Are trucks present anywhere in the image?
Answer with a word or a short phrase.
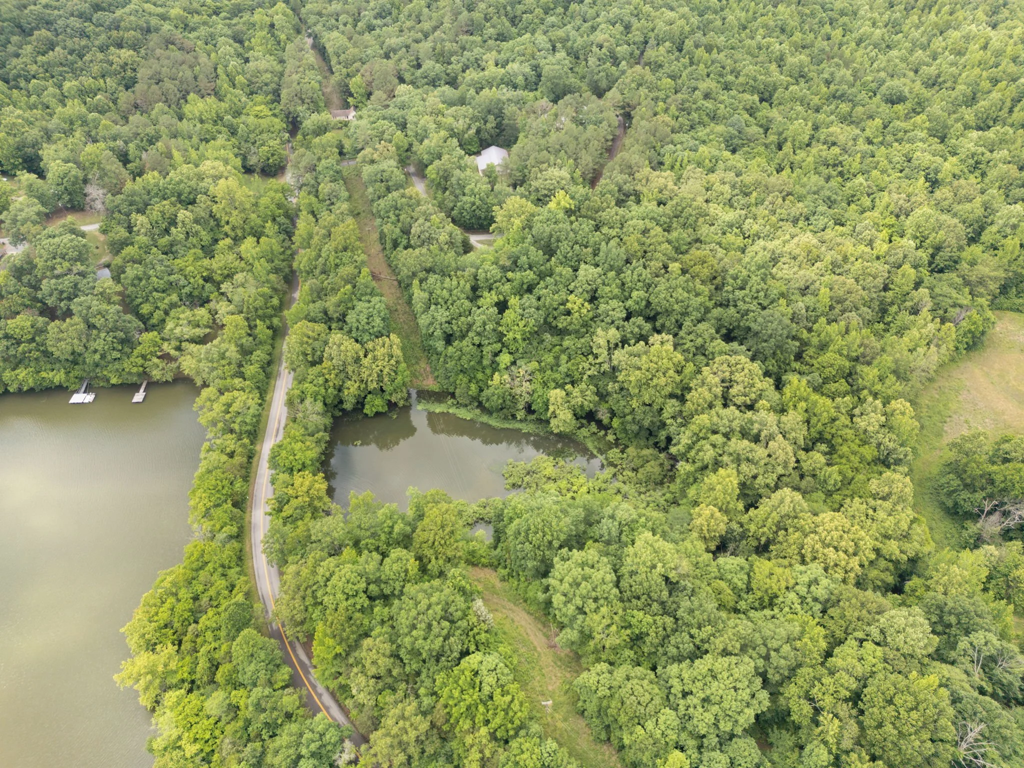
No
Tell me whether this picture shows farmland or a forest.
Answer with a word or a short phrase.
forest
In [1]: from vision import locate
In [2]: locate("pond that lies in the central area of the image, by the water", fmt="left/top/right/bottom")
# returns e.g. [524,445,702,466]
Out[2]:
[323,389,649,537]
